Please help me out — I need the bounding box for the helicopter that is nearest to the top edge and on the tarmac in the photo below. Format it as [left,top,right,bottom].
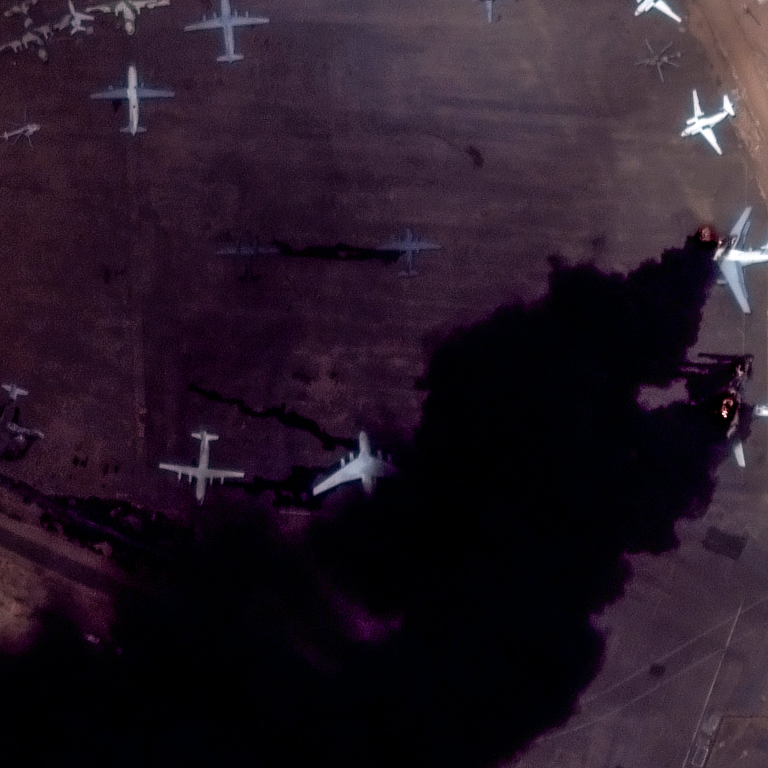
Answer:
[634,38,683,82]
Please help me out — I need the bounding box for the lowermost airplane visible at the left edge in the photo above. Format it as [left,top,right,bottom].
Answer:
[0,384,44,456]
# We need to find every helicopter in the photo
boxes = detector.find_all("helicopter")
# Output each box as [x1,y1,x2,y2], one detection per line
[634,38,683,82]
[0,108,43,149]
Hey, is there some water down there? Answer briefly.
No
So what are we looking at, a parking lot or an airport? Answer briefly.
airport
